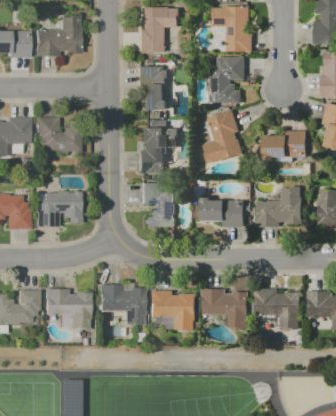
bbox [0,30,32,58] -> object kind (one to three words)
house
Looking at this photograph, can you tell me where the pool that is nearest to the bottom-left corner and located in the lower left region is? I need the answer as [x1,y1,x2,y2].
[48,327,72,341]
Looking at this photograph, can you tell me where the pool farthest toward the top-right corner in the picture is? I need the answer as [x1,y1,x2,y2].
[196,28,210,49]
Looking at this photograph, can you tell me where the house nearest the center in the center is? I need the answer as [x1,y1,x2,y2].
[143,180,174,228]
